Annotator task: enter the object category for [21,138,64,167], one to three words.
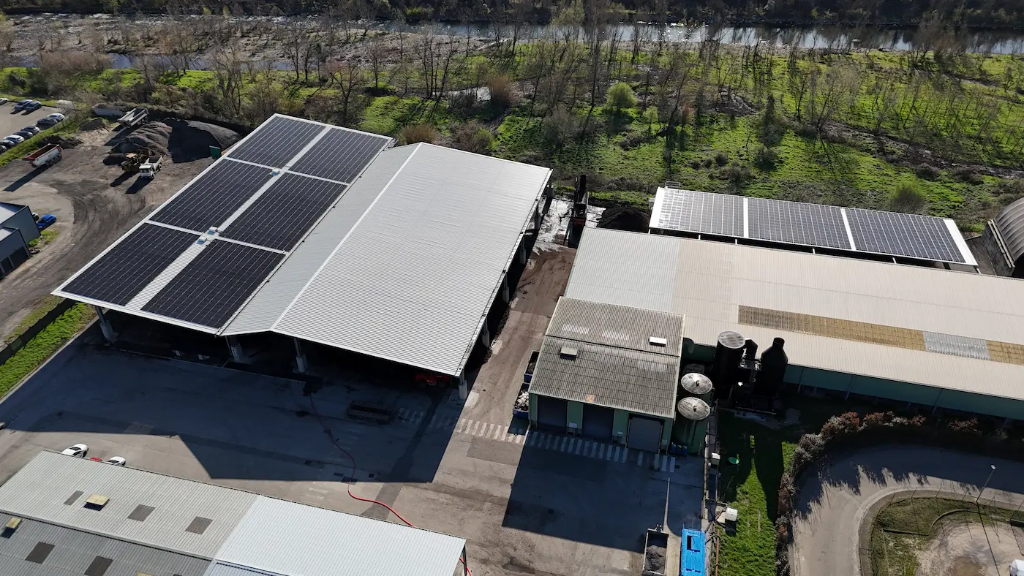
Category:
trailer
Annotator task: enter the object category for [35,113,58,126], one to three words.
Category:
vehicle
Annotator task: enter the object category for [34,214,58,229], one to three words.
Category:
car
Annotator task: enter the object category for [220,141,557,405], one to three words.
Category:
building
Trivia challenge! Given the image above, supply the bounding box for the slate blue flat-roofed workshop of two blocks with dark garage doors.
[0,199,39,277]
